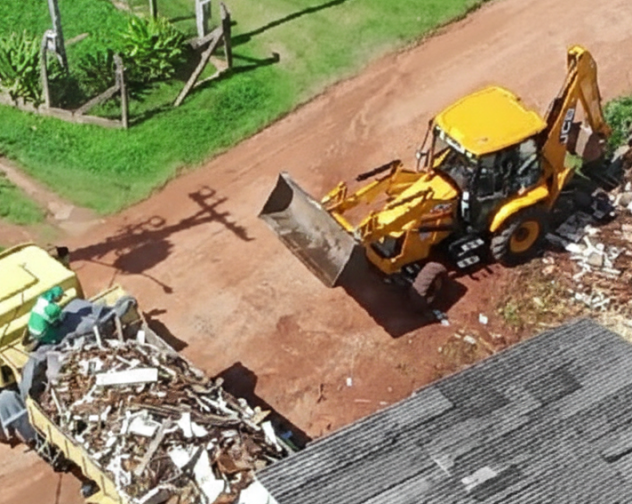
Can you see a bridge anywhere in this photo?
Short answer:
No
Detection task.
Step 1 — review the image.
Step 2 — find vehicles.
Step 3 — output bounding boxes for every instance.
[0,236,207,504]
[256,44,615,303]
